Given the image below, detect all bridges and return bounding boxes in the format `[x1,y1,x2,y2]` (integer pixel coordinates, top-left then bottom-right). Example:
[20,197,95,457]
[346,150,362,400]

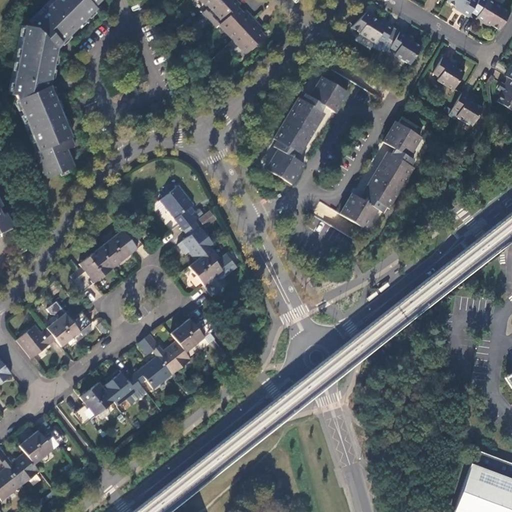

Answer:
[134,213,512,512]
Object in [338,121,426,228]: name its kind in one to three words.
building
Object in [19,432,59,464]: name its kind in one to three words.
house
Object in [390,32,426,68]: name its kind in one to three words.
house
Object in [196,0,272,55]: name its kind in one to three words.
building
